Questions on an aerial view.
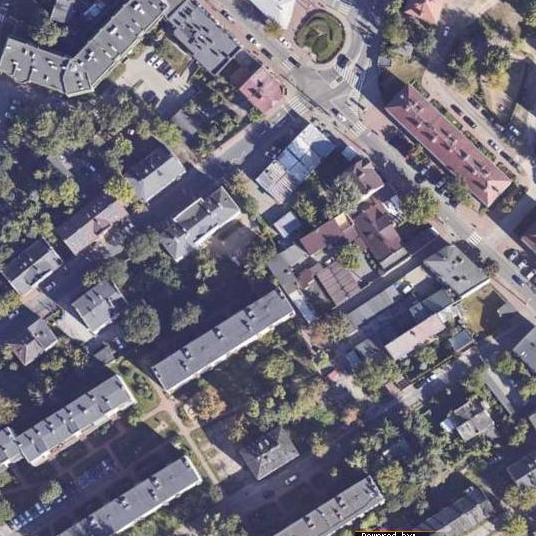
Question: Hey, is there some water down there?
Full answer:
No, the picture contains no water.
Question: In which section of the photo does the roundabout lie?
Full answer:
The roundabout appears toward the top of the photo.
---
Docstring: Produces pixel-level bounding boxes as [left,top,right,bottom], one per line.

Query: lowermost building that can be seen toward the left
[59,456,204,536]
